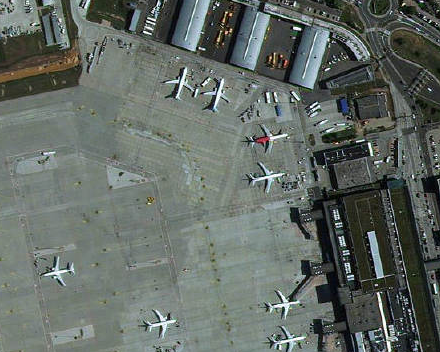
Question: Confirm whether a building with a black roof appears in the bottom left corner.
No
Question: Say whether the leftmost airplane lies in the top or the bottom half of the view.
bottom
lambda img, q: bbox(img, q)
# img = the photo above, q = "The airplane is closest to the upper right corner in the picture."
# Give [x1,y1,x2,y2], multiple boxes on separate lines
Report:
[249,121,288,156]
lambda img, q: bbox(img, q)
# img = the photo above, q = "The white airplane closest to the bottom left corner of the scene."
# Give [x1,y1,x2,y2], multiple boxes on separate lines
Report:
[40,256,74,287]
